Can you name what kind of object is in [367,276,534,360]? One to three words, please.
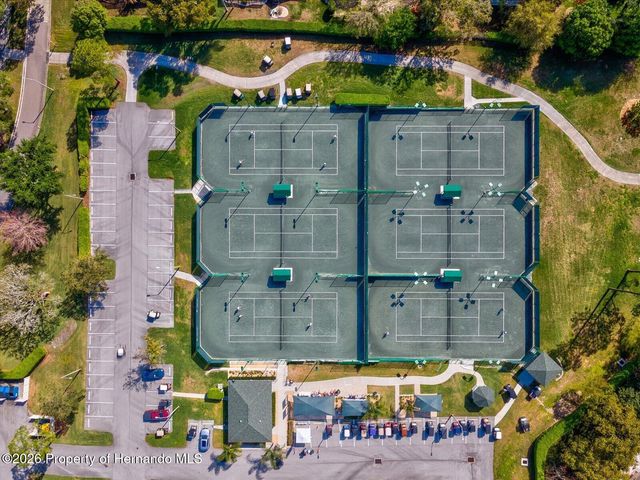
tennis court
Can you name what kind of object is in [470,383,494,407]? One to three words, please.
gazebo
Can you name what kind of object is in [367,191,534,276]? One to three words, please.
tennis court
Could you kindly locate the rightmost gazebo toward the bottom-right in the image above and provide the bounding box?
[523,351,562,388]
